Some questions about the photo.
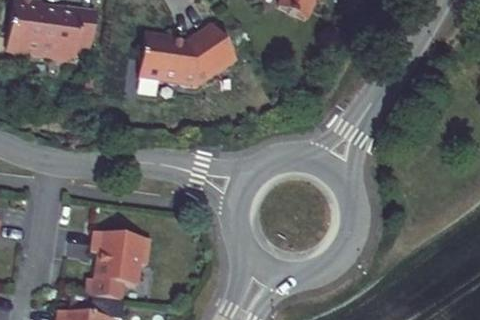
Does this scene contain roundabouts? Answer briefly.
Yes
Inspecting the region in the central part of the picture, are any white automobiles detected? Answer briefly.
No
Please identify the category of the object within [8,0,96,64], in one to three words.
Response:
house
